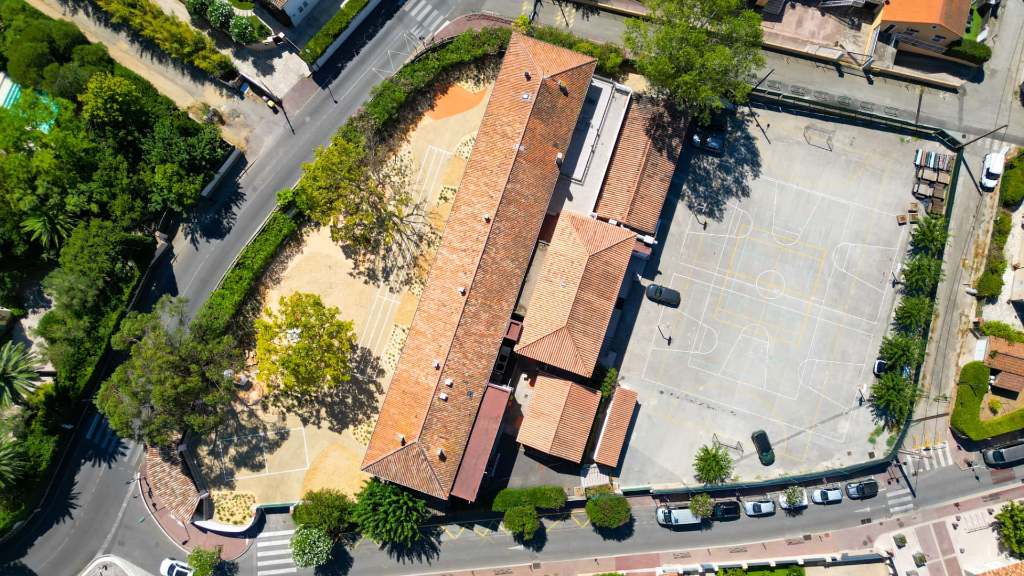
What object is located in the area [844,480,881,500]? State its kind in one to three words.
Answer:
car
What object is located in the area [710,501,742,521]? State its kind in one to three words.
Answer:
car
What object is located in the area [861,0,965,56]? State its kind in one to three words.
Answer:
house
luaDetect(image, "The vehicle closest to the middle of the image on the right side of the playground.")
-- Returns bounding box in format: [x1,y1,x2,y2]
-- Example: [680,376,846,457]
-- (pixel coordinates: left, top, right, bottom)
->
[645,283,682,306]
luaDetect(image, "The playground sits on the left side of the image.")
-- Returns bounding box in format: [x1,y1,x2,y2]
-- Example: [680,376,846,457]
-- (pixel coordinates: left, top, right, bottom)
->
[154,57,631,506]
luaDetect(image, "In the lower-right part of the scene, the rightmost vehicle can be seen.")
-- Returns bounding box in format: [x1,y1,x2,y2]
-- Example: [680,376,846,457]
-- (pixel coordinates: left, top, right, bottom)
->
[980,439,1024,466]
